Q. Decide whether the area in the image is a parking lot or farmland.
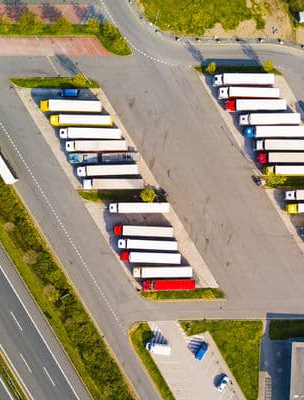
parking lot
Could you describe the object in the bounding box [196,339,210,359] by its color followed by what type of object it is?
blue vehicle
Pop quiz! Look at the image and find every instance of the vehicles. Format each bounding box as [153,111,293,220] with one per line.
[42,100,105,114]
[284,203,304,214]
[84,179,146,190]
[134,265,194,277]
[239,114,300,127]
[264,165,304,177]
[115,224,175,237]
[60,128,124,141]
[0,145,22,187]
[218,87,280,101]
[52,114,116,127]
[148,341,173,355]
[284,190,304,201]
[63,89,81,98]
[119,238,179,250]
[214,74,275,88]
[257,153,304,164]
[144,278,196,290]
[67,141,130,152]
[110,201,171,213]
[255,140,304,152]
[244,127,304,139]
[121,251,182,263]
[196,339,210,359]
[226,100,286,112]
[78,165,142,177]
[71,152,141,164]
[217,373,231,391]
